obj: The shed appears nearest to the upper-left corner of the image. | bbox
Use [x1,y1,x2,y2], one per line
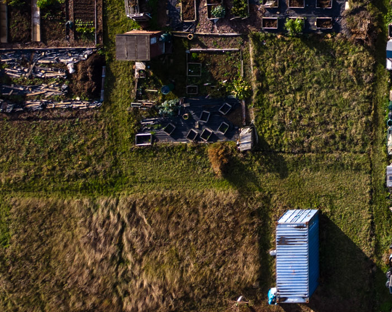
[116,31,164,60]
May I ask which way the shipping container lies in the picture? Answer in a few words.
up and down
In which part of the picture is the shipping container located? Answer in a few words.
bottom right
